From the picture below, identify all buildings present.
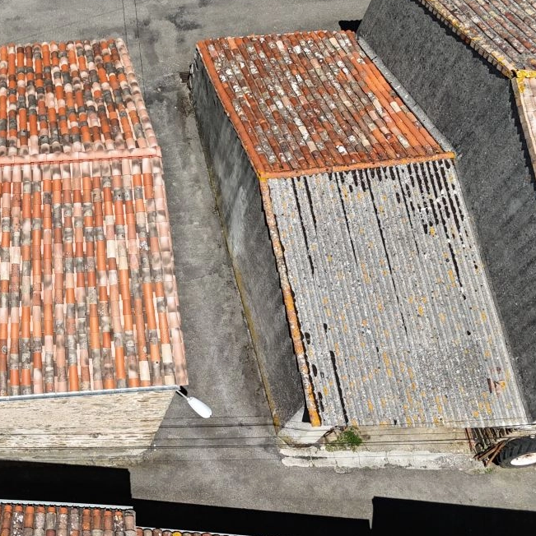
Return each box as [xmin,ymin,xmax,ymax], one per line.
[0,35,193,451]
[0,502,143,536]
[187,25,524,443]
